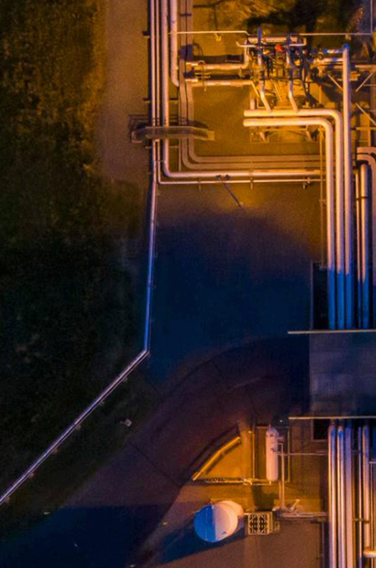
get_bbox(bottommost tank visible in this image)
[194,497,244,543]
